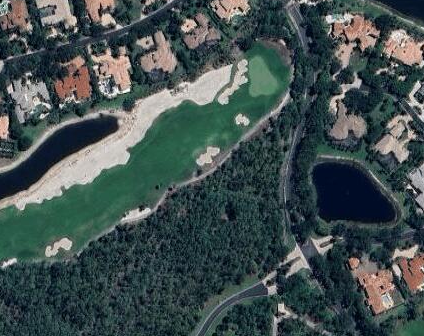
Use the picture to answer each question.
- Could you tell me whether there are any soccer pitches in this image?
No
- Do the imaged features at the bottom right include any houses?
Yes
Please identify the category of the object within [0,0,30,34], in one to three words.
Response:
house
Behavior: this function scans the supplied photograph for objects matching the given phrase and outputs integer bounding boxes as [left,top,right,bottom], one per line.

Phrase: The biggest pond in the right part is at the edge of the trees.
[314,160,397,223]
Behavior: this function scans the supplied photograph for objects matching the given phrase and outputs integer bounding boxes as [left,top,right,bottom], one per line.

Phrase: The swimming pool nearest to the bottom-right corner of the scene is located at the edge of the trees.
[380,292,395,309]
